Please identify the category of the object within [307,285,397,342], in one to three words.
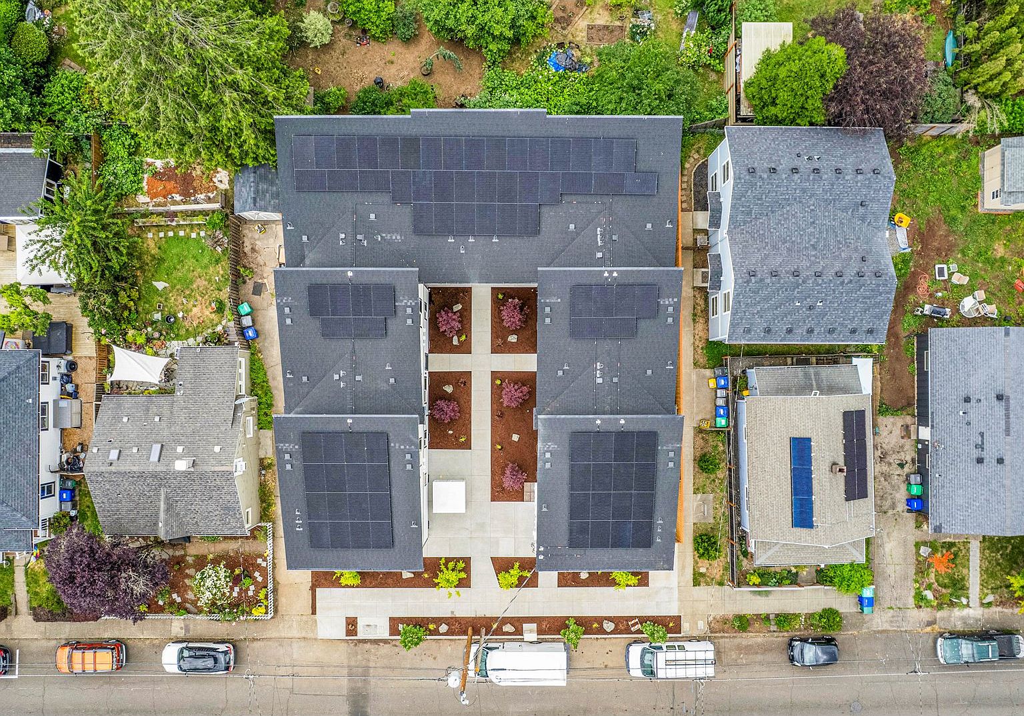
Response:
solar array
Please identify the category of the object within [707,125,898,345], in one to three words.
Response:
house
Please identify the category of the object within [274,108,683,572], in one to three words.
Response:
building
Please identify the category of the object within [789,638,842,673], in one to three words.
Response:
car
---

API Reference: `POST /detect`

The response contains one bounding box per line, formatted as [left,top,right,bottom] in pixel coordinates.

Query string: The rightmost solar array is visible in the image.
[844,410,869,501]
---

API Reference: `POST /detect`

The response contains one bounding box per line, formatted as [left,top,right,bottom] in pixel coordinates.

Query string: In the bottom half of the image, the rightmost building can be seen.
[916,328,1024,538]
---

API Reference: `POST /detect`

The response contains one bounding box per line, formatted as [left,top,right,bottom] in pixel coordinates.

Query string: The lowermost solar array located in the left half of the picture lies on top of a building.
[300,434,394,554]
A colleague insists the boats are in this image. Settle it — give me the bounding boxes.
[941,30,956,67]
